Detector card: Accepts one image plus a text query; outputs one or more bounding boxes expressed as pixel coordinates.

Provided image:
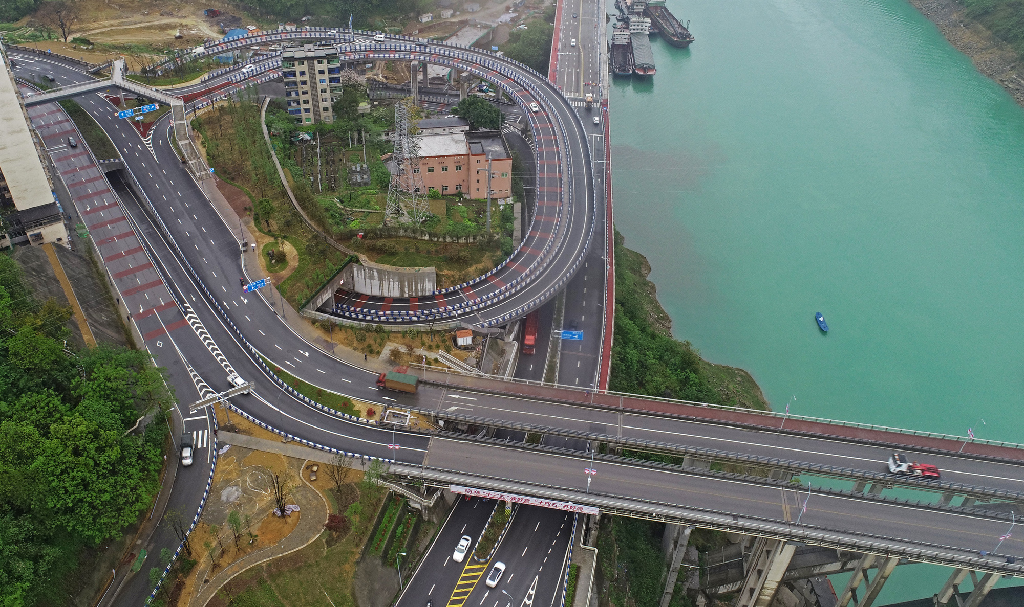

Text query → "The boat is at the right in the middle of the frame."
[815,308,831,332]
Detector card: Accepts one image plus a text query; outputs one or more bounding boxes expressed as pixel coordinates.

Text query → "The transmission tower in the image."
[384,95,436,220]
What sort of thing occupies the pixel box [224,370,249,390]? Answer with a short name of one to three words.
vehicle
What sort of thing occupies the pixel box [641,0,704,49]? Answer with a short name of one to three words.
vessel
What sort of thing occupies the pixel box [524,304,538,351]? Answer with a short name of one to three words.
vehicle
